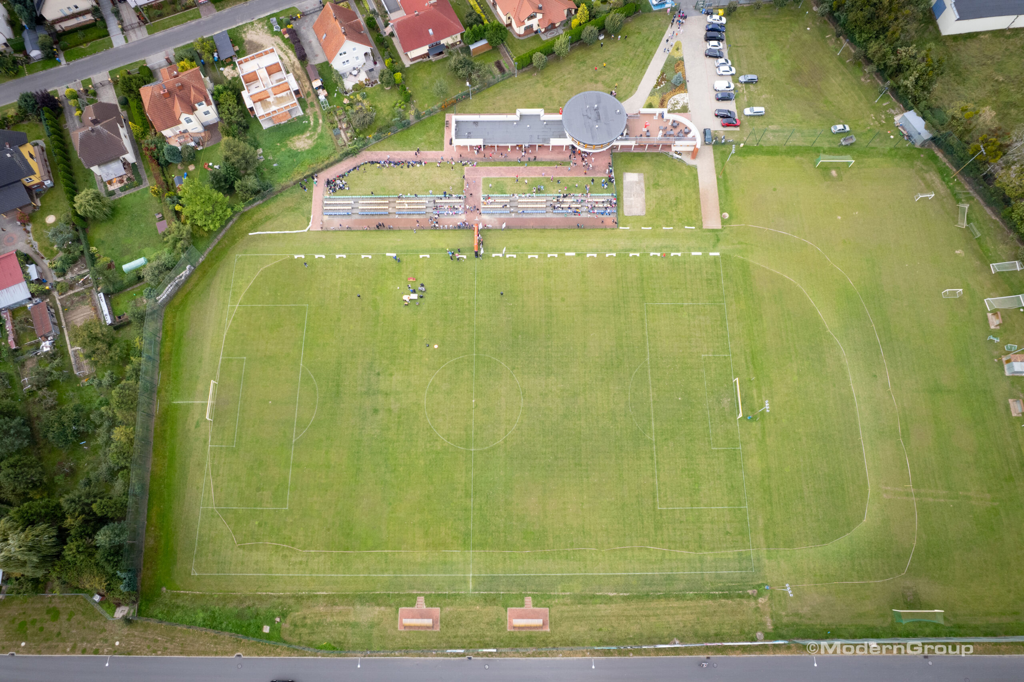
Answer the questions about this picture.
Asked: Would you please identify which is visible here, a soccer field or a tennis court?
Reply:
soccer field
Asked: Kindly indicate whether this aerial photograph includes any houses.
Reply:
Yes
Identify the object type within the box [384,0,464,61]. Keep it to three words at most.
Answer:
house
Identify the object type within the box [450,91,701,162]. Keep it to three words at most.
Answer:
building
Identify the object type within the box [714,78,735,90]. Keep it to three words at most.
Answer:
vehicle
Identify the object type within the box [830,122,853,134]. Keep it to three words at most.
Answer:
vehicle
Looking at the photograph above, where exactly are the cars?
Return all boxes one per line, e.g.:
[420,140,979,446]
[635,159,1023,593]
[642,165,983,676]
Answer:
[703,126,715,145]
[715,106,736,117]
[738,72,760,83]
[705,47,724,57]
[721,116,742,127]
[650,0,669,6]
[713,56,734,66]
[830,122,853,134]
[714,90,736,101]
[706,21,726,31]
[706,38,725,49]
[707,13,728,23]
[744,105,767,116]
[717,64,737,75]
[704,28,726,40]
